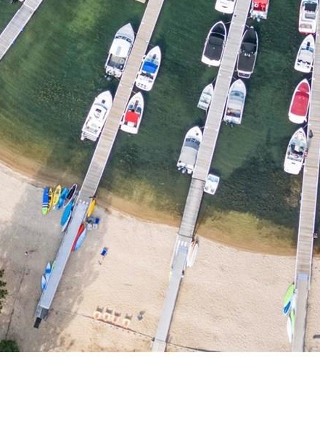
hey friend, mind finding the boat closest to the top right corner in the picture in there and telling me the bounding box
[298,0,318,35]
